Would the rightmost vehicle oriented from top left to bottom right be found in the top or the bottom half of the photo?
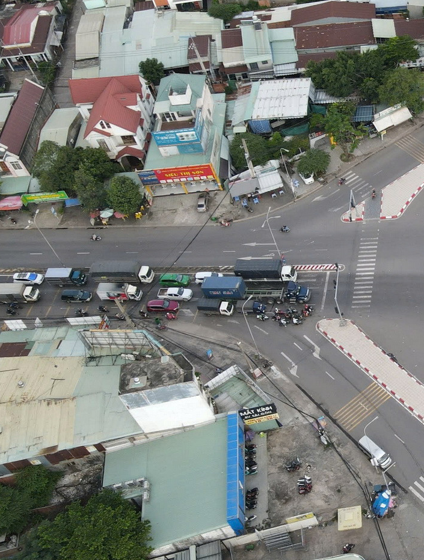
bottom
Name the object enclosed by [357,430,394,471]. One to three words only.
vehicle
